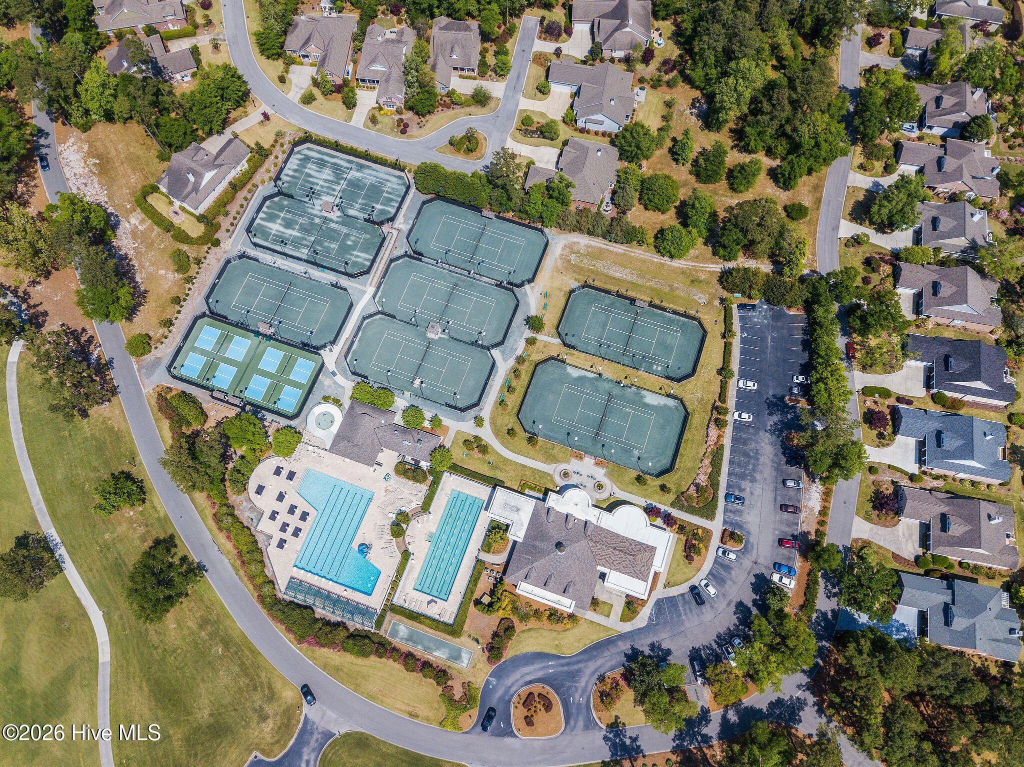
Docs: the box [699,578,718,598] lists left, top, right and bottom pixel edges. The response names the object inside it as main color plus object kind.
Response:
white car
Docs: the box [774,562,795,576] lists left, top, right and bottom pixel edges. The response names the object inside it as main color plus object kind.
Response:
blue car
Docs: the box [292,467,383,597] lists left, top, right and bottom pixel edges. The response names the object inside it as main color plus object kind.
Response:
blue swimming pool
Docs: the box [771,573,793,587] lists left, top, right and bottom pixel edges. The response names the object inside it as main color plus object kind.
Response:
white car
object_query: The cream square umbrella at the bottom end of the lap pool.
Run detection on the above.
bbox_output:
[422,598,440,617]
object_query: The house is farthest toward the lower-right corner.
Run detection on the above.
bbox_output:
[895,573,1024,663]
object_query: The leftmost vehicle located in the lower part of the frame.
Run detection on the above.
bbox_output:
[299,684,316,707]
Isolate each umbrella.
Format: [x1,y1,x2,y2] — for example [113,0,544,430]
[272,464,283,475]
[275,490,286,502]
[298,510,309,522]
[286,503,297,515]
[285,469,296,480]
[253,483,264,495]
[291,526,302,538]
[268,509,279,521]
[275,537,287,550]
[422,598,440,617]
[279,521,290,533]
